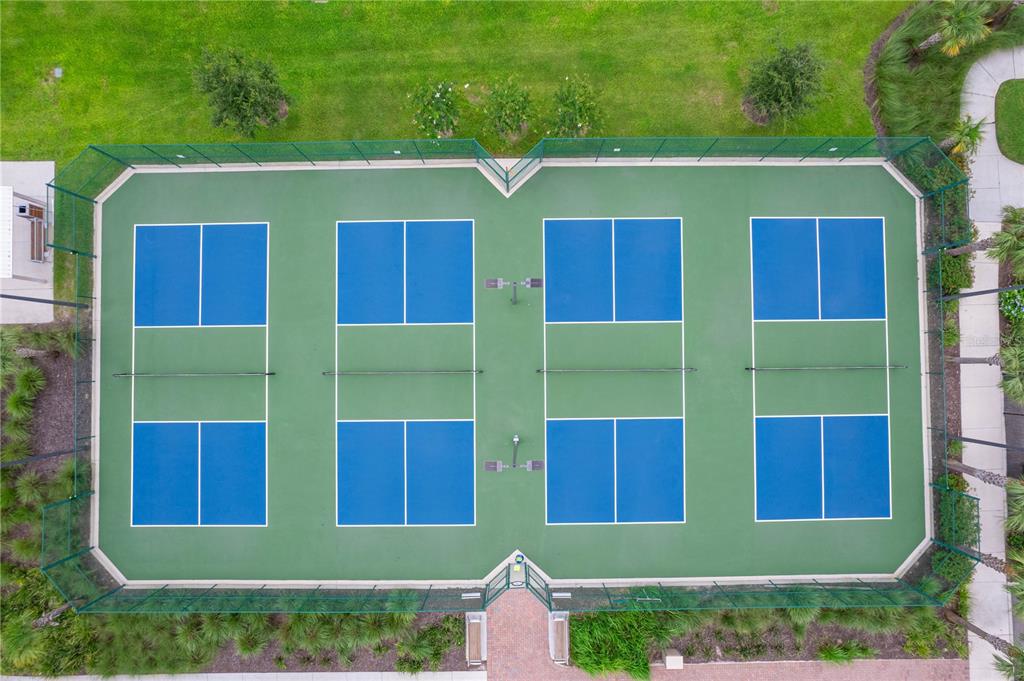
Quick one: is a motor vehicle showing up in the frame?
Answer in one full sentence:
No, I can see no motor vehicle in this picture.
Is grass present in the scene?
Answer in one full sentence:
Yes, there's grass in this view.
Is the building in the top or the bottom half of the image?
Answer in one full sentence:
The building is in the top half of the image.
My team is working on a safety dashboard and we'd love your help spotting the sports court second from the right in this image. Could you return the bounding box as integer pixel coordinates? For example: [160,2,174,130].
[543,217,686,524]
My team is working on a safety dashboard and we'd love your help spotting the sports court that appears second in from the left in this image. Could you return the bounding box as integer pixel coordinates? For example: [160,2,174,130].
[336,220,476,527]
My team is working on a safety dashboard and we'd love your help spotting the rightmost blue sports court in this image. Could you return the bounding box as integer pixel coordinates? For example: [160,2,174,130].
[750,217,892,521]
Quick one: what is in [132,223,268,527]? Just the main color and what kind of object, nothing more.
blue sports court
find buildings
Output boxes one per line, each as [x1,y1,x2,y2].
[0,187,50,284]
